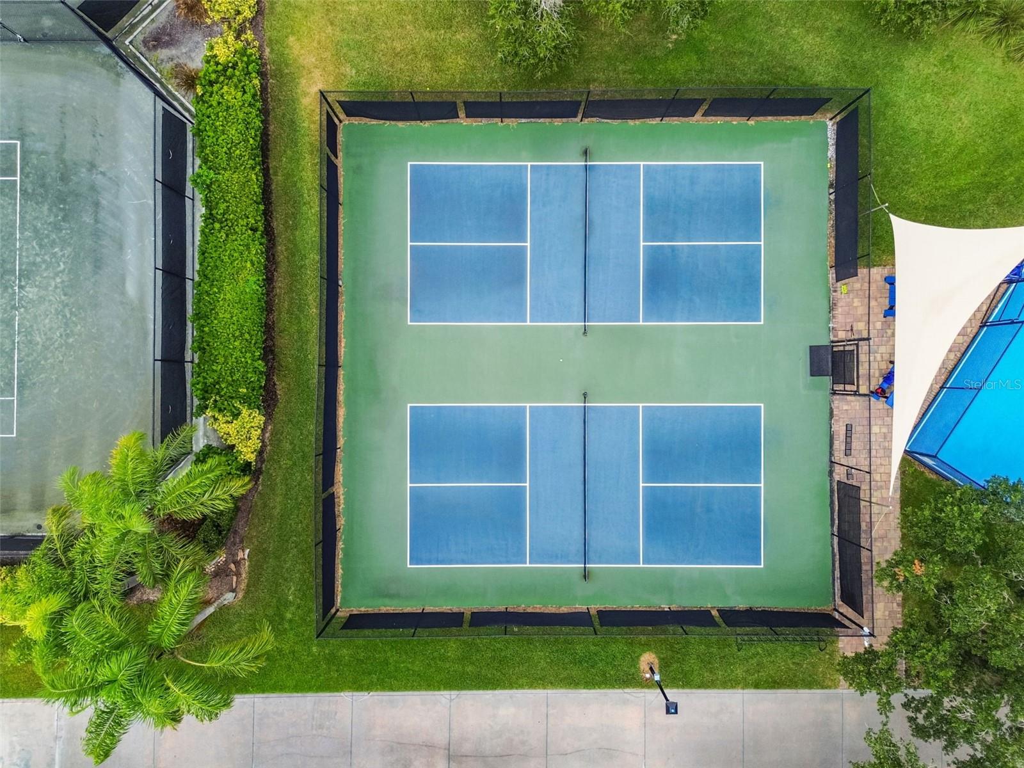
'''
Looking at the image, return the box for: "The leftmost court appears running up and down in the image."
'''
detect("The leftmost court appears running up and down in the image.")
[0,0,193,539]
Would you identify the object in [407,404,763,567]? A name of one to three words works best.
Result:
sports court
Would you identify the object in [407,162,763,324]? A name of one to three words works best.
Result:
sports court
